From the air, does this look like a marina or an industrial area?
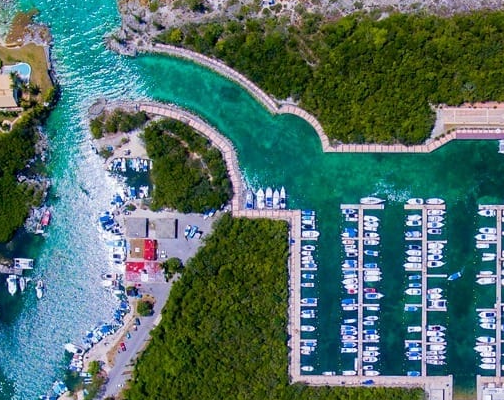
marina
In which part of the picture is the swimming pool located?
top left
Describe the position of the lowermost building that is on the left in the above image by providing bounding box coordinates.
[126,262,163,282]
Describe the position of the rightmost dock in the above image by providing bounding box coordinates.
[476,204,504,377]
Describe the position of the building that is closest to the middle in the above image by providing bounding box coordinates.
[155,218,177,238]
